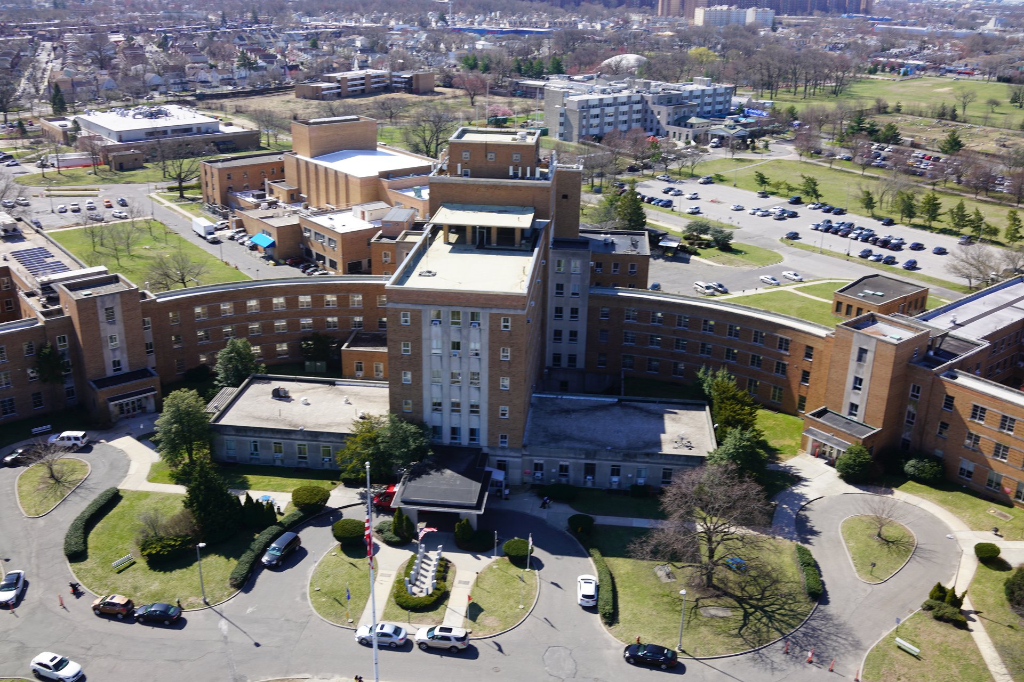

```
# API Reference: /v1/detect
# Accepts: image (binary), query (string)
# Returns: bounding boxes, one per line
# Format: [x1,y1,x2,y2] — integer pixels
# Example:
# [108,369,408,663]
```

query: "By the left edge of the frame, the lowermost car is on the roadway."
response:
[32,650,80,682]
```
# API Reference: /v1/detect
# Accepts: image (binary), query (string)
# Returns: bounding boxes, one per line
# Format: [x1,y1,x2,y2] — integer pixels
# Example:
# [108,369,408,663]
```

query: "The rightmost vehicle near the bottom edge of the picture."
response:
[624,642,678,670]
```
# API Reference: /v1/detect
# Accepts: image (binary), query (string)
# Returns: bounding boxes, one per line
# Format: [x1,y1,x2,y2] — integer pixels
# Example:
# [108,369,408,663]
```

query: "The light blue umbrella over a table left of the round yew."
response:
[255,481,274,501]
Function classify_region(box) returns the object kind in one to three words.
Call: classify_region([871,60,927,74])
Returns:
building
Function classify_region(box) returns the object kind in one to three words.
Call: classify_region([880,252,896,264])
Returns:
vehicle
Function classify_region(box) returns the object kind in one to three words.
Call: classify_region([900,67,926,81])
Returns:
building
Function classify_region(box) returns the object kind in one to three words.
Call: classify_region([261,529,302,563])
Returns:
car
